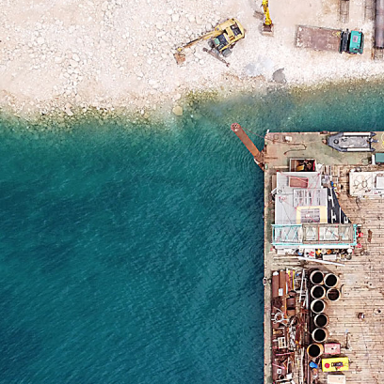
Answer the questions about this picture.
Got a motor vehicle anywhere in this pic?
Yes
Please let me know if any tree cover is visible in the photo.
No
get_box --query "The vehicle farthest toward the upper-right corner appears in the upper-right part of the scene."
[295,26,364,56]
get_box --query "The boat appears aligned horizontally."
[326,133,372,153]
